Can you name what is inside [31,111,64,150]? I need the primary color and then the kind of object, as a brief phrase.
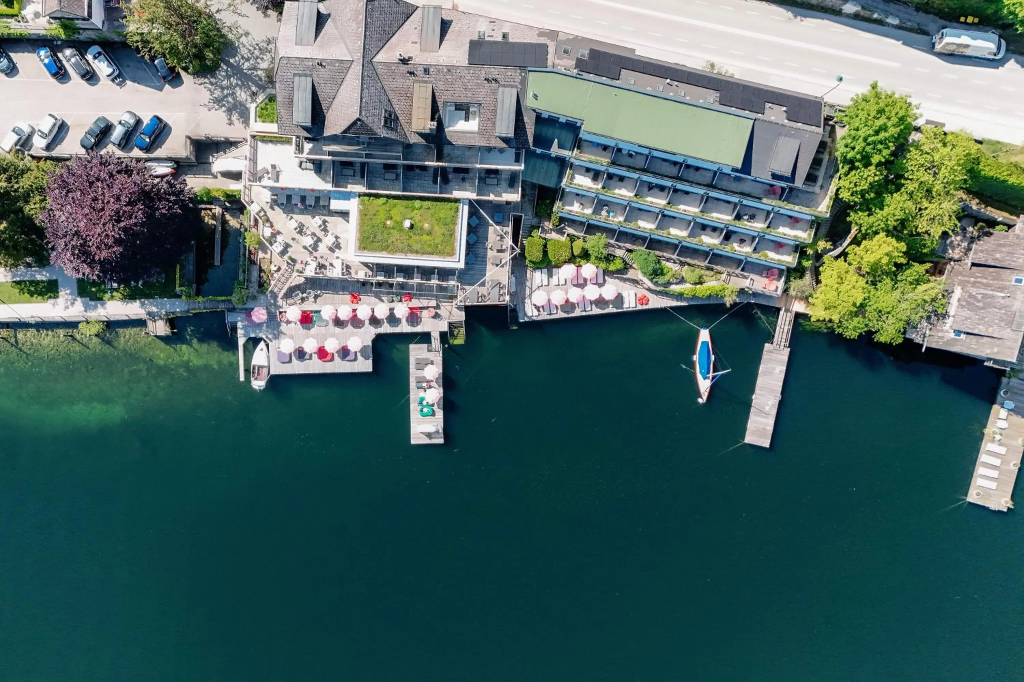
white car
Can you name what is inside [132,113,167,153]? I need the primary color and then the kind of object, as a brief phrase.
blue car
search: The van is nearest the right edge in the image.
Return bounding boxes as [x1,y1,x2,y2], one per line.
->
[925,24,1002,62]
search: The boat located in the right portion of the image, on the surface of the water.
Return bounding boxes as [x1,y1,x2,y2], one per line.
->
[693,328,731,403]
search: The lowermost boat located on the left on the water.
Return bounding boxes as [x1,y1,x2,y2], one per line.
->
[251,341,270,392]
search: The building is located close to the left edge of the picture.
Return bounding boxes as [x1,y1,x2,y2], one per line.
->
[42,0,116,33]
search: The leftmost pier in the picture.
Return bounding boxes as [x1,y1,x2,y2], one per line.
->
[145,319,174,336]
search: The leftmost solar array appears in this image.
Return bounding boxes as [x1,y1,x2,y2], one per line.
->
[468,39,547,67]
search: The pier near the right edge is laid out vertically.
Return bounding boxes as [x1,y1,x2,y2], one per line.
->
[966,377,1024,511]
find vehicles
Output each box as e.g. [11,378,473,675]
[34,45,68,82]
[108,111,141,149]
[0,117,35,154]
[925,24,1002,62]
[132,113,167,153]
[78,113,111,149]
[150,56,178,87]
[84,45,122,84]
[31,111,64,150]
[61,45,95,84]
